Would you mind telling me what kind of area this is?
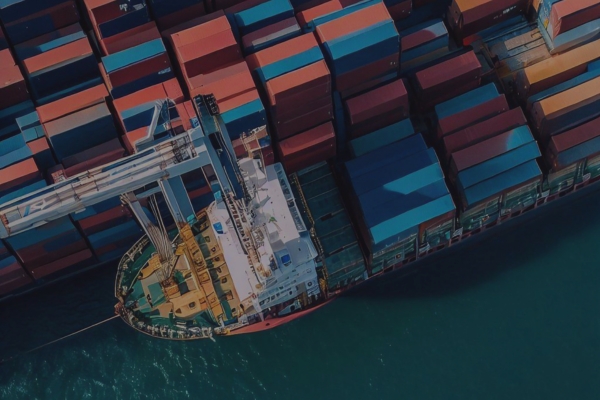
port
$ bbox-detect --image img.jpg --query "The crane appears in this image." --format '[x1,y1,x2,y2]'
[0,94,255,286]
